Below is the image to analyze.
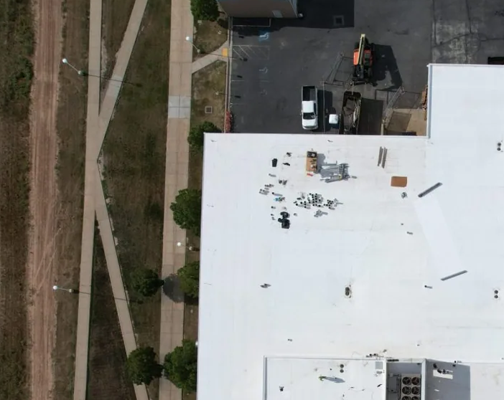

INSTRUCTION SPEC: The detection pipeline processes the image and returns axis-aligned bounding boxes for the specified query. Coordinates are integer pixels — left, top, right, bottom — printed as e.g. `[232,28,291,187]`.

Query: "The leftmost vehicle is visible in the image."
[299,83,320,133]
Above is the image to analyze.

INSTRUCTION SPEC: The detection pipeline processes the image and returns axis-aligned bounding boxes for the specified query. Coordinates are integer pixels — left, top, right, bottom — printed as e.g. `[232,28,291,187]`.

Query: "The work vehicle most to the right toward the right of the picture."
[349,26,374,95]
